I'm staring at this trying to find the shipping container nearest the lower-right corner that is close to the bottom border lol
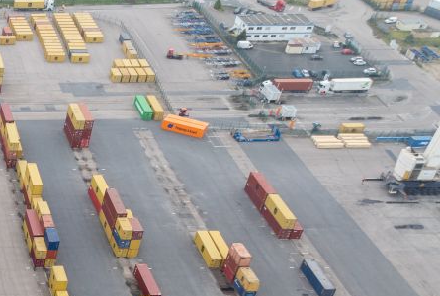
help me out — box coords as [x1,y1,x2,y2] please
[300,259,336,296]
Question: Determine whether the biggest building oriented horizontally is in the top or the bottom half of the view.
top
